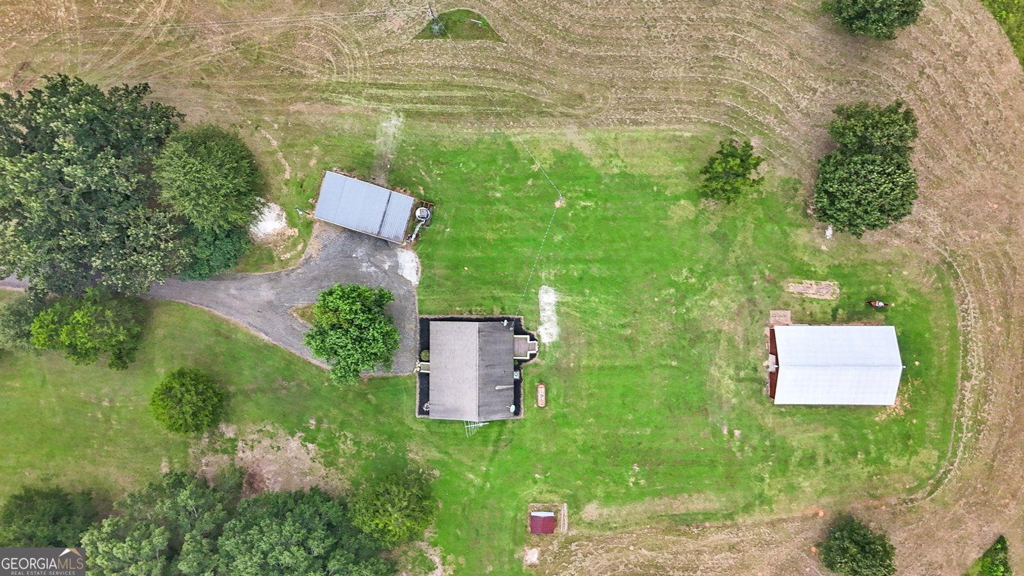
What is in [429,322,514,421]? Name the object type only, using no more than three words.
house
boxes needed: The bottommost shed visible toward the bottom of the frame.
[531,512,554,535]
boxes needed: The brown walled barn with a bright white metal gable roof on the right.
[769,324,908,405]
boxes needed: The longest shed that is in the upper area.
[313,171,416,244]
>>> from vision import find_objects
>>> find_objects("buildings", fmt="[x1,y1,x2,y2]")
[313,171,416,244]
[769,324,908,405]
[429,322,514,421]
[531,512,554,535]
